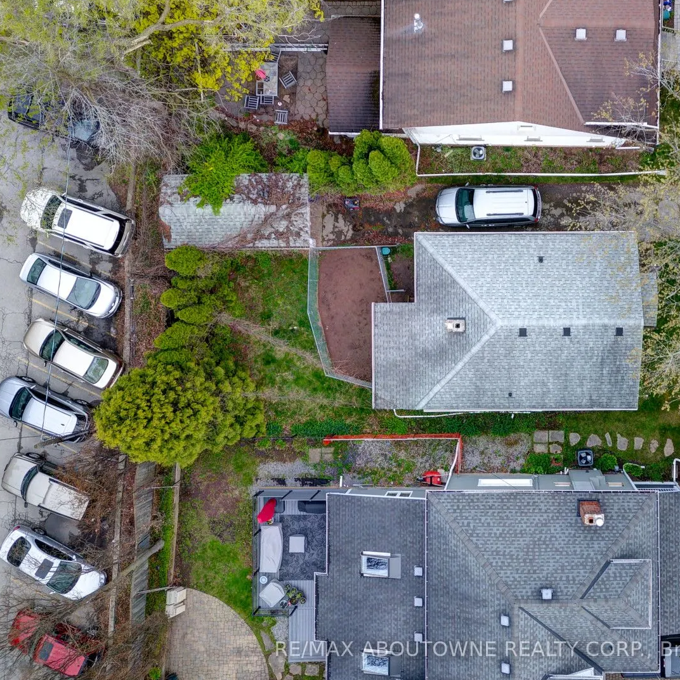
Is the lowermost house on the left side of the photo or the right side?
right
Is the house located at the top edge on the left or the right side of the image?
right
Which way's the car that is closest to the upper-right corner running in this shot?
from left to right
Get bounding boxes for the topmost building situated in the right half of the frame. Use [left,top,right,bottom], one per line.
[326,0,662,147]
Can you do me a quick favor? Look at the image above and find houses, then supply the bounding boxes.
[370,228,657,418]
[326,0,662,147]
[311,459,680,680]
